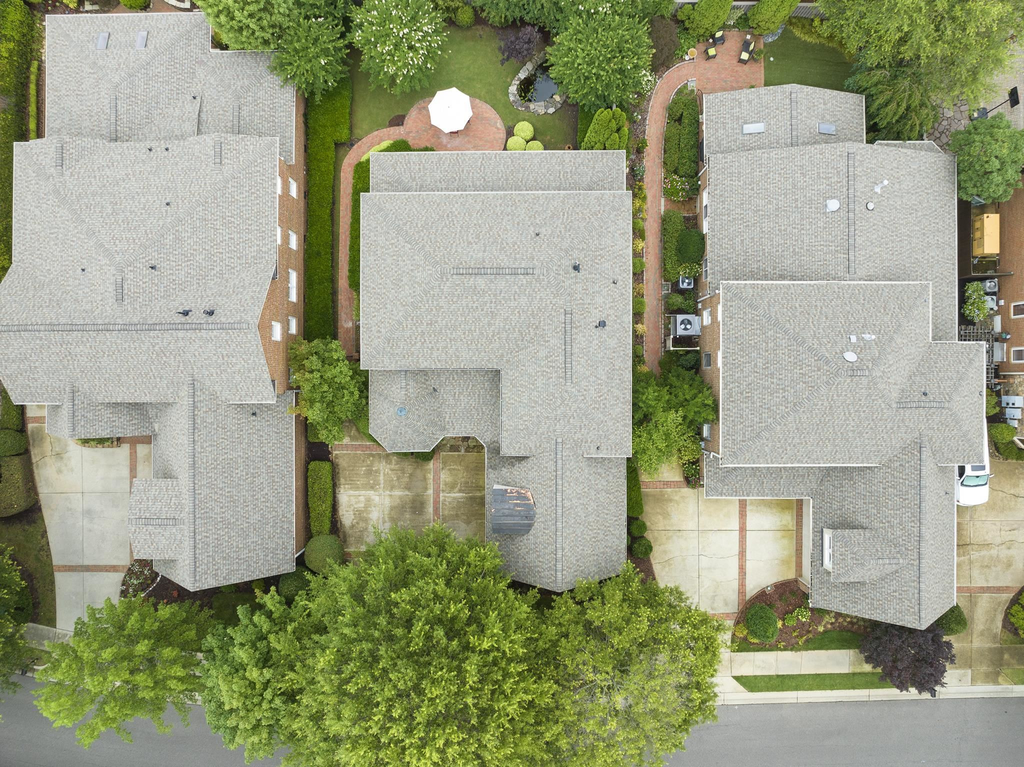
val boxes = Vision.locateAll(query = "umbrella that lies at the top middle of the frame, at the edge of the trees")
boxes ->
[427,88,473,134]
